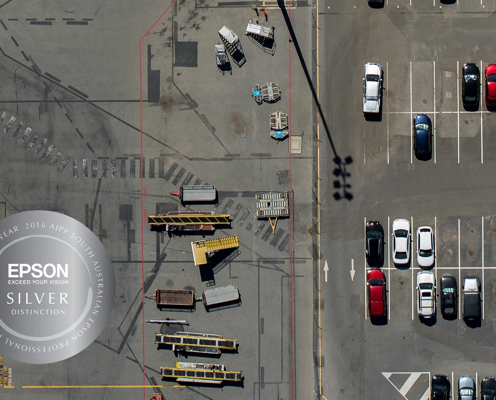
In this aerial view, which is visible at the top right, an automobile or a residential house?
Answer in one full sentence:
There is an automobile at the top right.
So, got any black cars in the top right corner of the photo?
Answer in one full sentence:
Yes, the scene does show a black car in the top right corner of the photo.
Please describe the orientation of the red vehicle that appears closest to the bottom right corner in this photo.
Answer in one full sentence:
From this overhead view, the red vehicle that appears closest to the bottom right corner appears to run from top to bottom.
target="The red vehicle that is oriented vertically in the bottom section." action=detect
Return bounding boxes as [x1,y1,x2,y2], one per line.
[365,268,386,316]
